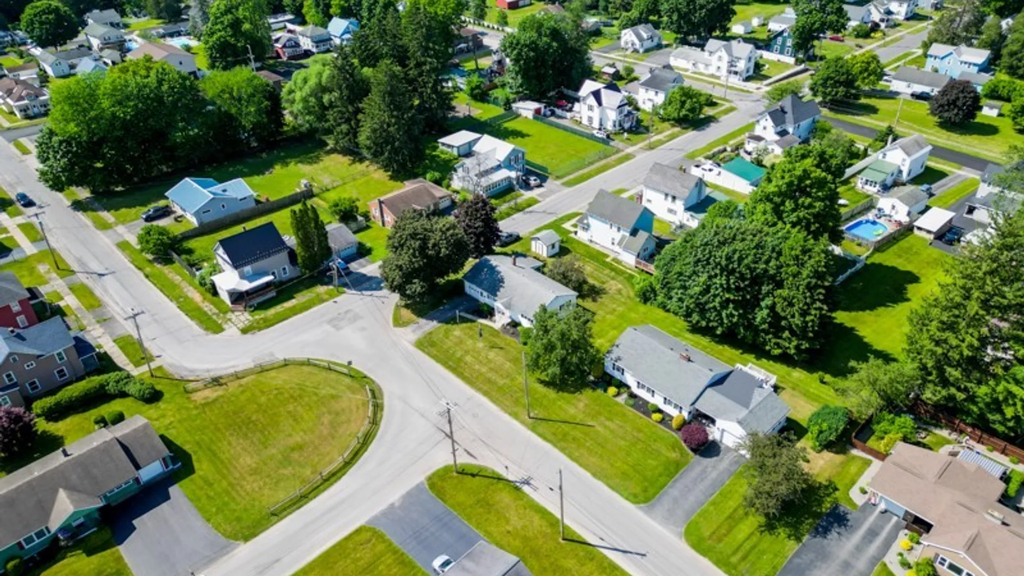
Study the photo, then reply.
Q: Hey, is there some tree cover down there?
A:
Yes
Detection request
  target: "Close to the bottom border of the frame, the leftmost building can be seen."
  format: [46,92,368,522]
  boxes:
[0,414,173,560]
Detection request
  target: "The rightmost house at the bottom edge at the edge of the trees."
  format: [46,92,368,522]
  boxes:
[868,440,1024,576]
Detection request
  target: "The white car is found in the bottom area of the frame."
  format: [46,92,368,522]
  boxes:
[433,553,455,573]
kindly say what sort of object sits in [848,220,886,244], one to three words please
swimming pool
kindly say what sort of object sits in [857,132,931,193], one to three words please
house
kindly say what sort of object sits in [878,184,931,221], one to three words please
building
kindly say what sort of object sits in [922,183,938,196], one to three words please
vehicle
